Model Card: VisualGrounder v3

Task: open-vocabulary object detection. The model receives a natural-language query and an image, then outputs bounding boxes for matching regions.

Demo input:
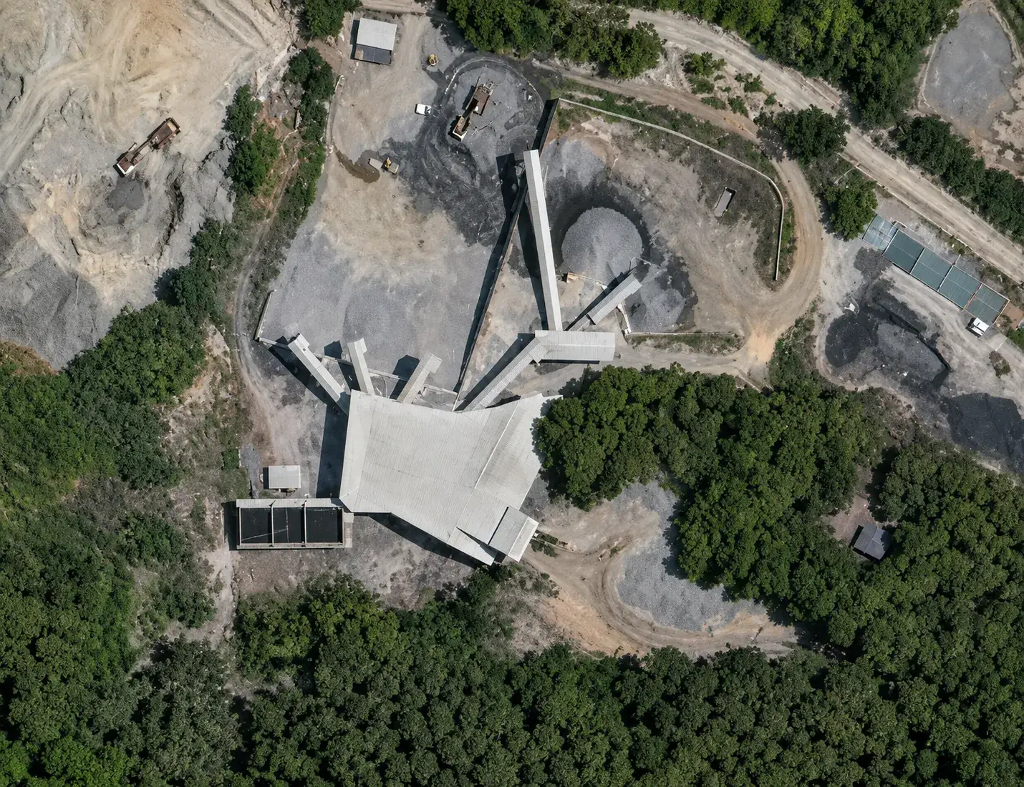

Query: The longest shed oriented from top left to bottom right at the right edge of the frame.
[883,228,1010,325]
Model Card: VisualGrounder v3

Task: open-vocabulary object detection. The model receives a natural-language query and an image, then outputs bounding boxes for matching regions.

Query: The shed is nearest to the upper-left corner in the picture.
[354,18,397,66]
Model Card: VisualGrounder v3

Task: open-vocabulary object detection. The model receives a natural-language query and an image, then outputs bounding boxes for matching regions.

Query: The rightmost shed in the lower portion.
[854,525,892,560]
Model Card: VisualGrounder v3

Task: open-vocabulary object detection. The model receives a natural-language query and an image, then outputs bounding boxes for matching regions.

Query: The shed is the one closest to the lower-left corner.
[268,465,301,489]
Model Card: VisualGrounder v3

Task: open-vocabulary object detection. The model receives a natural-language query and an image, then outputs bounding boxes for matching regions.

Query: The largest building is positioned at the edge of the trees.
[339,390,556,565]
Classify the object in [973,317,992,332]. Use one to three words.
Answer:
vehicle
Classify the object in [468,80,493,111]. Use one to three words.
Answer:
truck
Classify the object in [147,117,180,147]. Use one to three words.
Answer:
truck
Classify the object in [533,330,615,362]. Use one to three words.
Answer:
house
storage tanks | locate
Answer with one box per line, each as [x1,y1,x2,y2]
[236,499,356,551]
